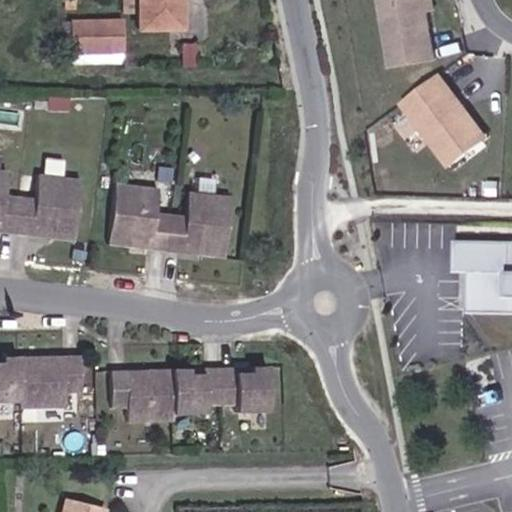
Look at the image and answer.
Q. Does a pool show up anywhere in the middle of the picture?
No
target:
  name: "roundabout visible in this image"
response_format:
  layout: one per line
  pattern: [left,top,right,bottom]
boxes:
[278,252,372,350]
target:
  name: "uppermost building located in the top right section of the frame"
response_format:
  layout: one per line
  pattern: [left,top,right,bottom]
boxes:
[373,0,436,68]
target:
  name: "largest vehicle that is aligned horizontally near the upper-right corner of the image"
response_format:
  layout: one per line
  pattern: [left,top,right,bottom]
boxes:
[434,41,462,56]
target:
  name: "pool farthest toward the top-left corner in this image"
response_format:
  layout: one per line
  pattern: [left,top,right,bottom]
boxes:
[0,106,24,128]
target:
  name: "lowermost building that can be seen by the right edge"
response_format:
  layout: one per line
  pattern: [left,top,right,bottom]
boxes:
[451,240,512,314]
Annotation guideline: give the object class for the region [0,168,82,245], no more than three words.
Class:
house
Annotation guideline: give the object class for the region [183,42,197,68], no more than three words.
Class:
shed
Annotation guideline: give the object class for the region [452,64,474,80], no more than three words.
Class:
car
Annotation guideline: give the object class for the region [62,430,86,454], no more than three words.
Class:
swimming pool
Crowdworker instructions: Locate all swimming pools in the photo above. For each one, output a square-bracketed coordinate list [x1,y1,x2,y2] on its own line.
[0,106,24,128]
[62,430,86,454]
